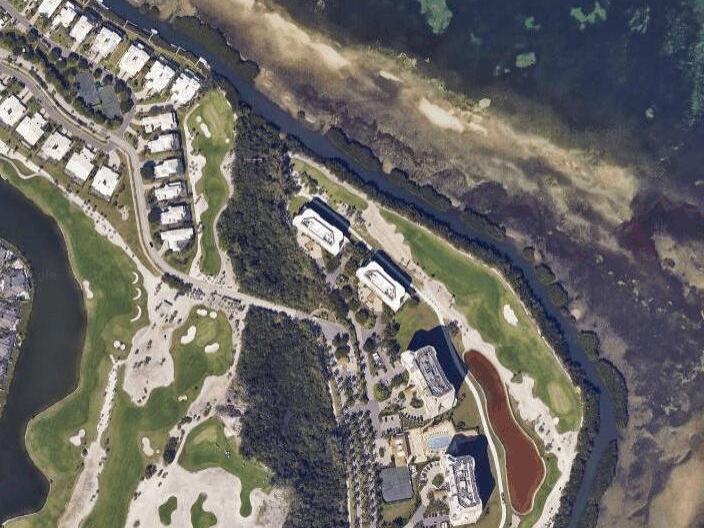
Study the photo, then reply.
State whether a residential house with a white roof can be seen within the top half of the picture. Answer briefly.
Yes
